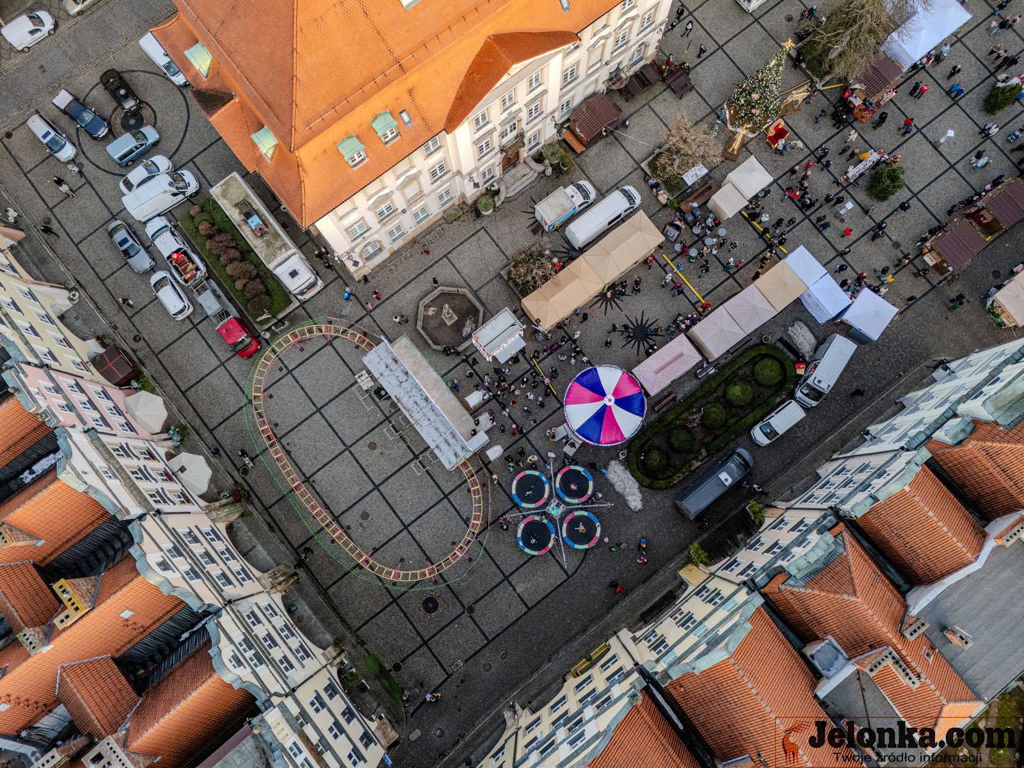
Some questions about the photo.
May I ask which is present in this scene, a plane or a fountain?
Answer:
fountain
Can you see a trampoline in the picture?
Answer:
Yes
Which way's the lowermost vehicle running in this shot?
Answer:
diagonally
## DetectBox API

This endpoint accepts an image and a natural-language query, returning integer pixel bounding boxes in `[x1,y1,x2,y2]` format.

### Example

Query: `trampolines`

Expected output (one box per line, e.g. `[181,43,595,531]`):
[562,510,601,550]
[555,465,593,503]
[517,515,555,555]
[512,471,549,508]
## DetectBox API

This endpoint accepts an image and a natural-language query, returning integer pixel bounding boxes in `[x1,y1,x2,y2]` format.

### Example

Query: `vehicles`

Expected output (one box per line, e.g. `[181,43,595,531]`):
[42,79,117,143]
[561,183,645,253]
[749,399,811,449]
[98,66,146,118]
[529,177,600,237]
[19,109,83,165]
[115,173,203,229]
[736,0,786,17]
[196,157,327,301]
[0,13,59,54]
[674,446,758,522]
[144,214,208,288]
[148,268,198,325]
[792,330,872,412]
[99,123,165,169]
[125,19,187,92]
[184,271,264,360]
[114,151,177,195]
[103,219,159,278]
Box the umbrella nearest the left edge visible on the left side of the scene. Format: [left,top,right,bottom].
[127,392,168,431]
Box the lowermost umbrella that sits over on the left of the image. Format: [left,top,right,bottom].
[173,455,213,494]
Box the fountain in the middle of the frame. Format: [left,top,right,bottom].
[414,283,485,353]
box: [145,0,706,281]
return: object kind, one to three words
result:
building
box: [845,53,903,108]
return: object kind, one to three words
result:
shed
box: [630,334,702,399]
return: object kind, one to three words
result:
tent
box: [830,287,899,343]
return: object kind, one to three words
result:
tent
